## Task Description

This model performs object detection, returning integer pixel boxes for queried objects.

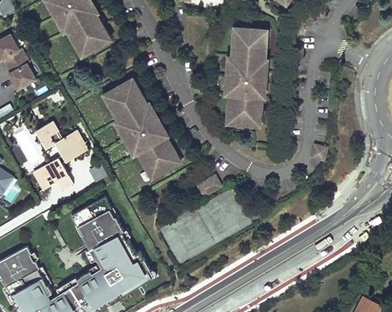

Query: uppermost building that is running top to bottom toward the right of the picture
[223,28,270,130]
